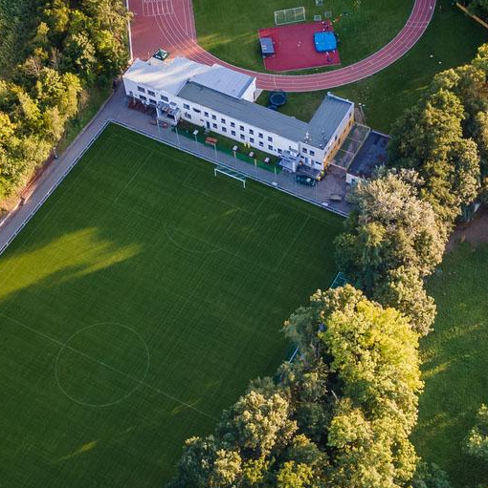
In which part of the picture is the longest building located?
top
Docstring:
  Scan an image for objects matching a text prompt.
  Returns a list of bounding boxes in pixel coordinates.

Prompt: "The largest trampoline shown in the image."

[269,93,286,107]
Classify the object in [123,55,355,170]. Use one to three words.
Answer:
building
